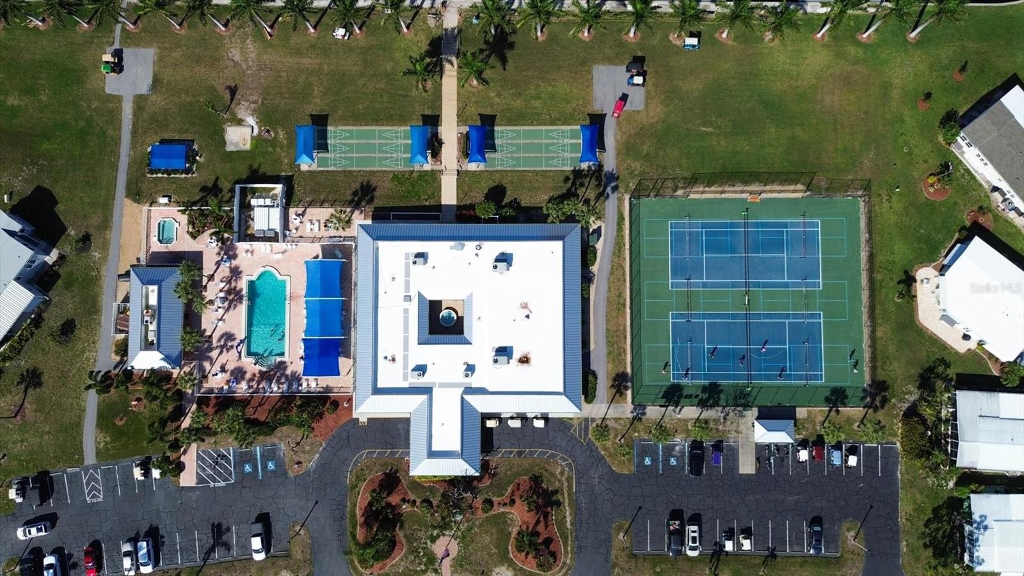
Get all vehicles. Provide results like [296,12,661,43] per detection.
[33,470,55,507]
[808,519,824,552]
[689,440,705,477]
[16,553,36,576]
[827,445,841,465]
[151,464,165,479]
[843,450,857,468]
[722,533,733,552]
[667,518,683,556]
[103,54,121,65]
[794,445,807,463]
[135,461,150,480]
[9,482,25,501]
[484,417,500,427]
[83,544,101,575]
[738,533,751,551]
[42,553,61,576]
[17,520,53,540]
[250,523,267,559]
[611,97,625,118]
[624,62,643,73]
[335,28,351,42]
[136,537,156,572]
[121,540,138,574]
[506,417,522,427]
[680,38,699,49]
[686,522,701,555]
[627,76,645,87]
[531,417,546,427]
[809,443,823,464]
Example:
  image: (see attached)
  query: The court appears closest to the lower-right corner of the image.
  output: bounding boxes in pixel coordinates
[630,198,866,406]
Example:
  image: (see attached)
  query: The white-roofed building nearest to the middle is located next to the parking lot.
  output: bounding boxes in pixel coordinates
[355,223,582,476]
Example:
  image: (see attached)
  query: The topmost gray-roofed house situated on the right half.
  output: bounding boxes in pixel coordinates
[948,85,1024,227]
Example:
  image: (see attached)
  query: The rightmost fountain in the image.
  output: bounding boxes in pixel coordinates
[439,308,457,327]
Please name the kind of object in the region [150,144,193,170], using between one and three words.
building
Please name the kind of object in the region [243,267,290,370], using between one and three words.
swimming pool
